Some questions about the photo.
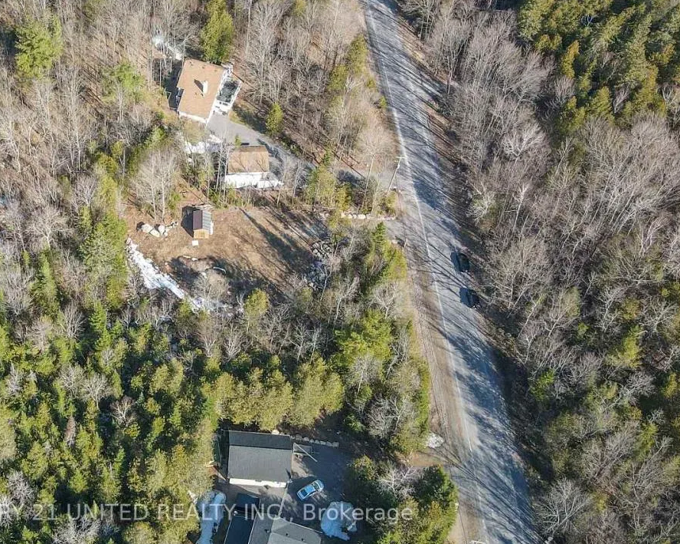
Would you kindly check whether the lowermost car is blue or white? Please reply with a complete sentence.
The color of the lowermost car is blue.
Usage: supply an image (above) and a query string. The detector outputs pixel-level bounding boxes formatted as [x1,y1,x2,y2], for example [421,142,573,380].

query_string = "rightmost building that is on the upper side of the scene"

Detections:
[226,147,268,180]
